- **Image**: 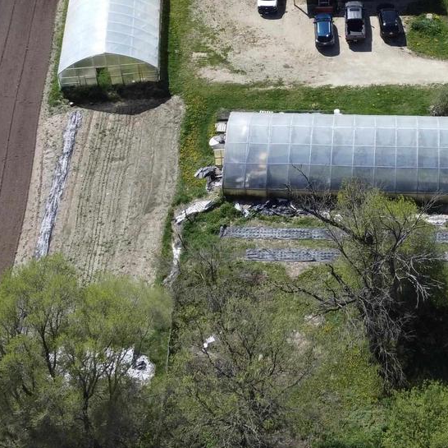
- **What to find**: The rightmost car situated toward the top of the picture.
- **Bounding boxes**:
[375,3,399,33]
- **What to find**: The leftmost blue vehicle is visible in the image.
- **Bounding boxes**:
[314,8,338,37]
